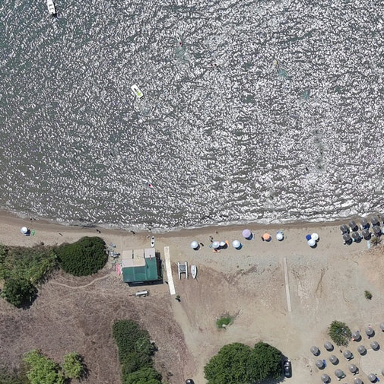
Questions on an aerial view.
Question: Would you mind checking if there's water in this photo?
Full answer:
Yes, water can be seen from above here.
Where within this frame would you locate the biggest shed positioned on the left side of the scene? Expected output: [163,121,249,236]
[122,248,159,282]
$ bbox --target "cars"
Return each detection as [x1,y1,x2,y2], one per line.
[284,360,292,378]
[185,377,195,384]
